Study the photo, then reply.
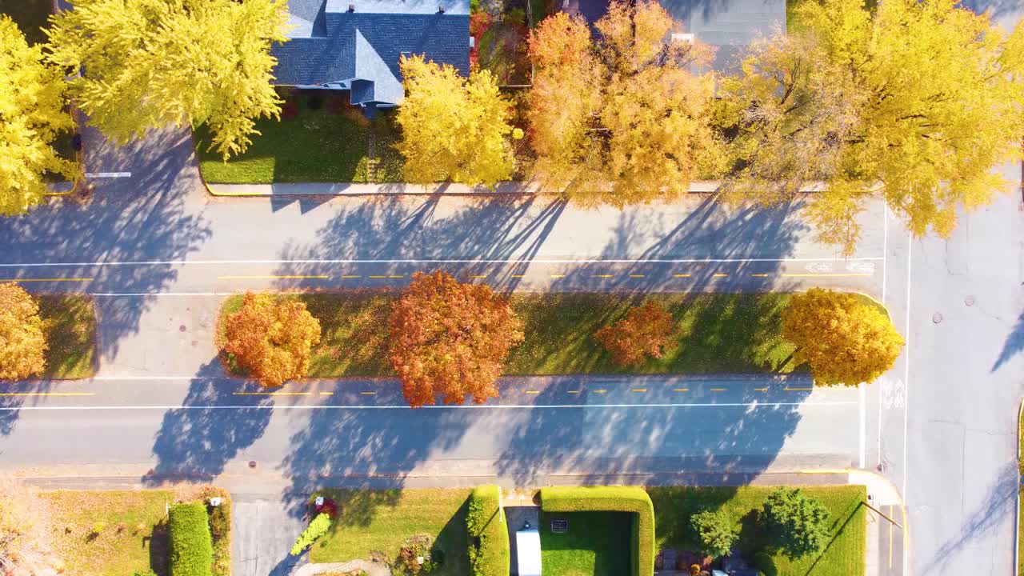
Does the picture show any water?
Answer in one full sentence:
No, there's no water in this view.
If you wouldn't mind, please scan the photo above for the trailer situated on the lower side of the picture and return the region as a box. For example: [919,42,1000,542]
[516,519,542,576]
